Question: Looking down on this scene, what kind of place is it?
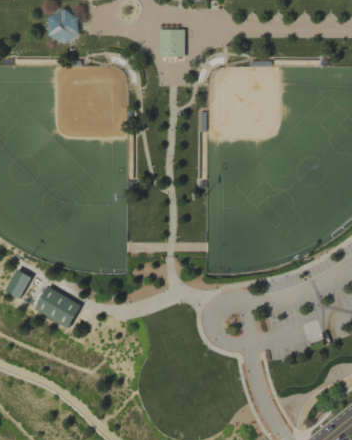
sports ground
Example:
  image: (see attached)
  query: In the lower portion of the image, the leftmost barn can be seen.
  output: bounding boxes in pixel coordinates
[6,270,30,298]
